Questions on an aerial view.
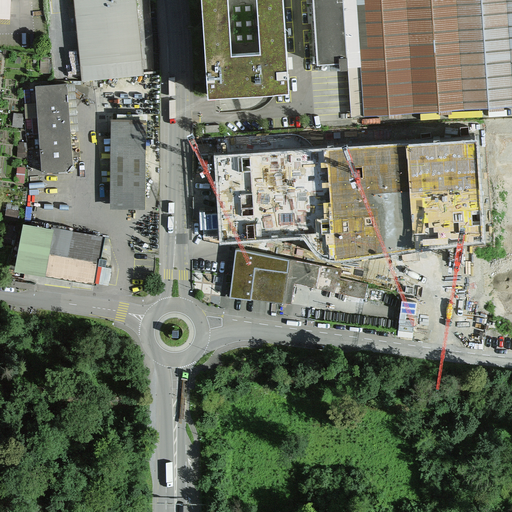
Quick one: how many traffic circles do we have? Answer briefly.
1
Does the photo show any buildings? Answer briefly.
Yes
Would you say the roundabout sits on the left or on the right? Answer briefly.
left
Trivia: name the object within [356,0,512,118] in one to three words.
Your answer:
building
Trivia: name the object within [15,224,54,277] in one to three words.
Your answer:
shed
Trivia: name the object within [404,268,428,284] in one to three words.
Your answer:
vehicle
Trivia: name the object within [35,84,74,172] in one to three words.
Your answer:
building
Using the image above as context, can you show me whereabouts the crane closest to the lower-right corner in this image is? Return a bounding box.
[436,229,466,390]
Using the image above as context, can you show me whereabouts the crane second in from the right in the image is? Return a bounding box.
[344,146,416,324]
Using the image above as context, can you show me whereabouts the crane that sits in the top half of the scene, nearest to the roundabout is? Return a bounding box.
[186,135,252,264]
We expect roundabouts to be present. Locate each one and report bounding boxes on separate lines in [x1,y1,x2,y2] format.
[138,296,212,368]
